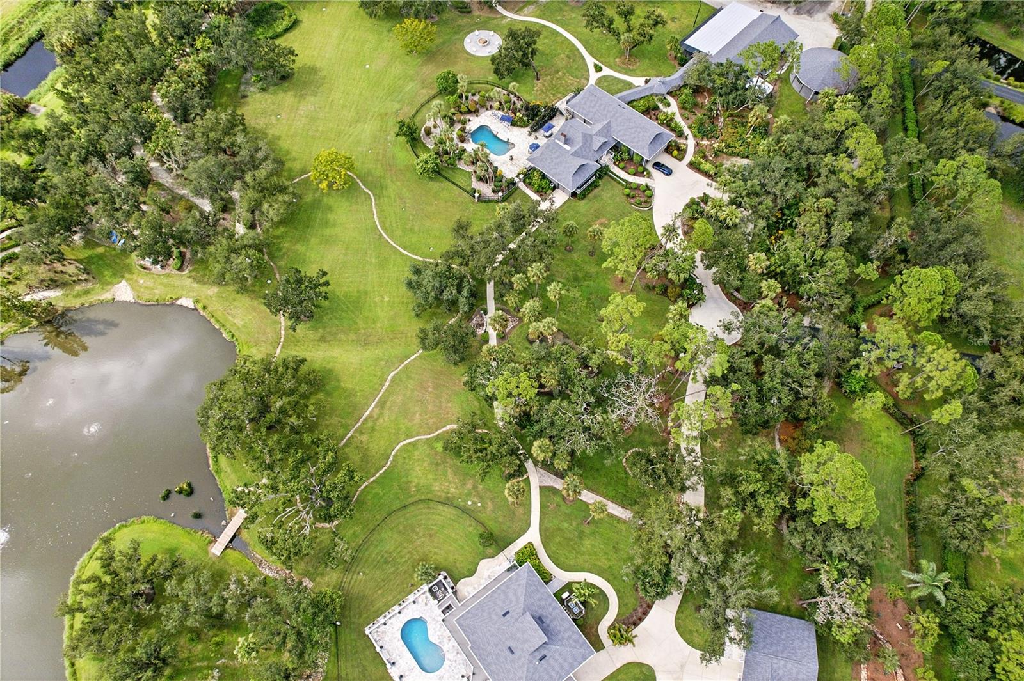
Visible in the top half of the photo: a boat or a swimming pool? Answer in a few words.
swimming pool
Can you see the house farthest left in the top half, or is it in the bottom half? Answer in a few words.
bottom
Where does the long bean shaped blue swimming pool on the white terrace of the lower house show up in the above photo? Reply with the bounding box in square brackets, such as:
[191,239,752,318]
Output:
[399,616,447,676]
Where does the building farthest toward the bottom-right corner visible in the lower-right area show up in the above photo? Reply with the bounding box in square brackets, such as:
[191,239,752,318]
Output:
[740,608,817,681]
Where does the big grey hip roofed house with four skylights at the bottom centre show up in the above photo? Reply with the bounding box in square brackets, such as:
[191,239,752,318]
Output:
[454,562,597,681]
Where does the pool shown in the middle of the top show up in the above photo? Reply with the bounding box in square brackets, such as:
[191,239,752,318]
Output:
[469,123,516,157]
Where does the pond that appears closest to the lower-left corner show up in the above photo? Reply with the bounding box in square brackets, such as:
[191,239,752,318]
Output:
[0,303,252,681]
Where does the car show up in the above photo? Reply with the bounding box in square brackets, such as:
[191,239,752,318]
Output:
[649,160,675,177]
